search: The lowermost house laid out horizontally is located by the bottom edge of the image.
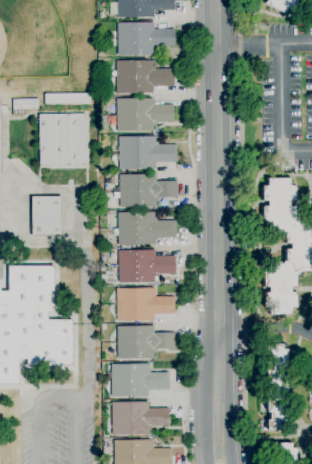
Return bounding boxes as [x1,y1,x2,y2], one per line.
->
[113,440,171,464]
